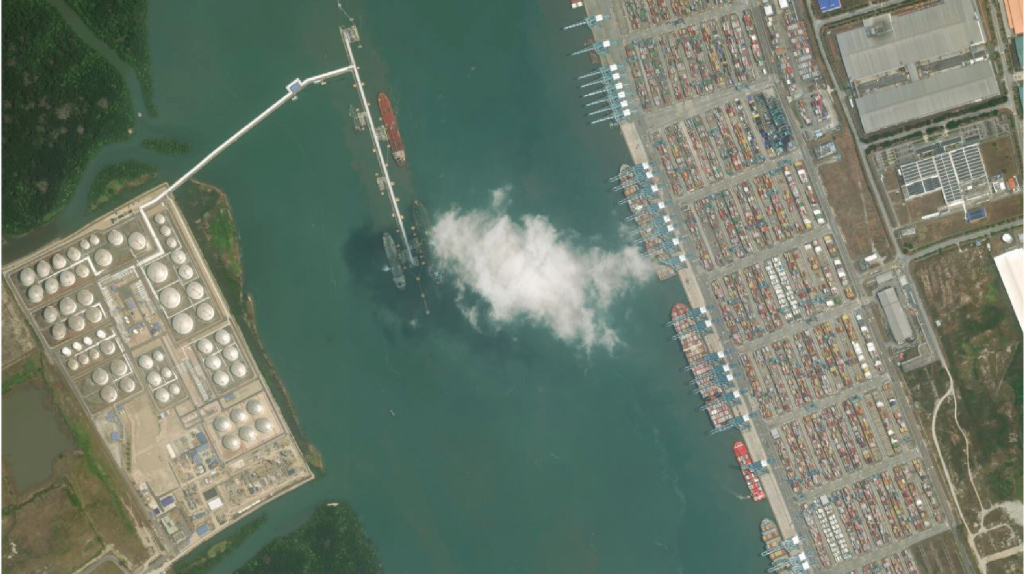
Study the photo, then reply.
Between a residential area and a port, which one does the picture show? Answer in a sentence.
What you see here is a port.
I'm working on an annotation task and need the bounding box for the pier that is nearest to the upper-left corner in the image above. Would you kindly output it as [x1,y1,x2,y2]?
[139,2,427,311]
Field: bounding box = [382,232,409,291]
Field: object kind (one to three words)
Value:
ship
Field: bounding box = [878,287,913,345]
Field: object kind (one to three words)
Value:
building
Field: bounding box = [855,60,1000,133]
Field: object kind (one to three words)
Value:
building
